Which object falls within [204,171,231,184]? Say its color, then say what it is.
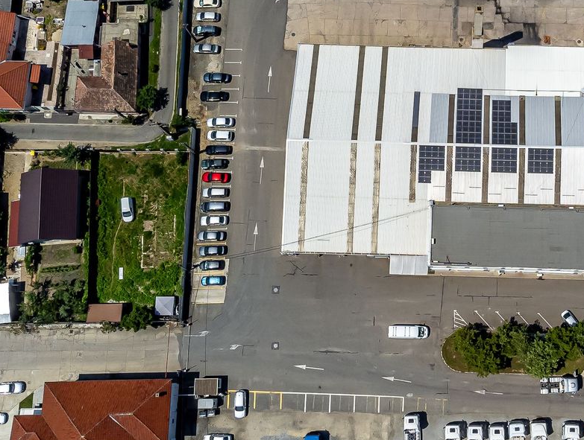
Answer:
red vehicle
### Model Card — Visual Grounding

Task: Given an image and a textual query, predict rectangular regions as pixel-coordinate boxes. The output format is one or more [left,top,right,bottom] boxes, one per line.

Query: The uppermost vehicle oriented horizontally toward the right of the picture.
[392,323,425,339]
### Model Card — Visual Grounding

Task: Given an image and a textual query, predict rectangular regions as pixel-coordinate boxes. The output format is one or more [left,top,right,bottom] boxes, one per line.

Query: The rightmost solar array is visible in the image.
[527,149,553,173]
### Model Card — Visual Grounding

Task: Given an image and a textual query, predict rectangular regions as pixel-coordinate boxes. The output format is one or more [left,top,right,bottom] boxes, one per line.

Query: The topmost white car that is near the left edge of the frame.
[0,380,26,395]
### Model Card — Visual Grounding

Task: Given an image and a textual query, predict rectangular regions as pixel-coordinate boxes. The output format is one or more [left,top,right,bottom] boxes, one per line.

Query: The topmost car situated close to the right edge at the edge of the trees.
[559,307,579,328]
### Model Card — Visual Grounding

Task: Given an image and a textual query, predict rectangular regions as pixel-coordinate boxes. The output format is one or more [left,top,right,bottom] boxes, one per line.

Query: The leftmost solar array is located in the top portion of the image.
[418,146,445,183]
